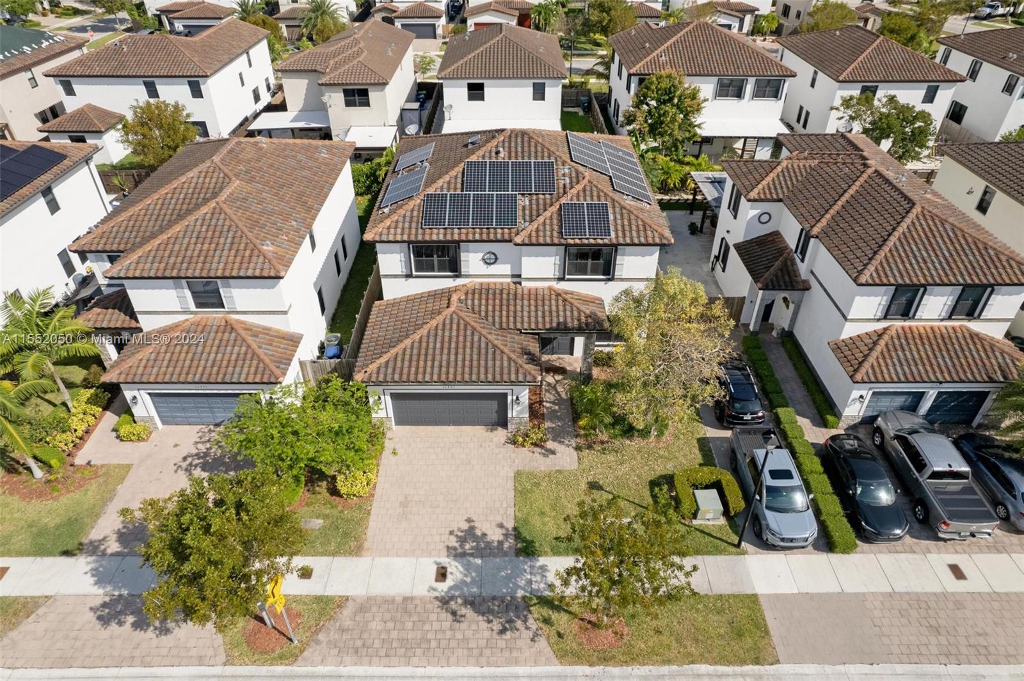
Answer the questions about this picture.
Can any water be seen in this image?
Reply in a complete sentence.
No, no water is visible.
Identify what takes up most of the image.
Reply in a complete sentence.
The bulk of the photo consists of buildings.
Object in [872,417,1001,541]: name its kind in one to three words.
truck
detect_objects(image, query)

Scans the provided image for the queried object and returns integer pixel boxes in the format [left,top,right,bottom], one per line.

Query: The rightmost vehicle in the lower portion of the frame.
[958,436,1024,532]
